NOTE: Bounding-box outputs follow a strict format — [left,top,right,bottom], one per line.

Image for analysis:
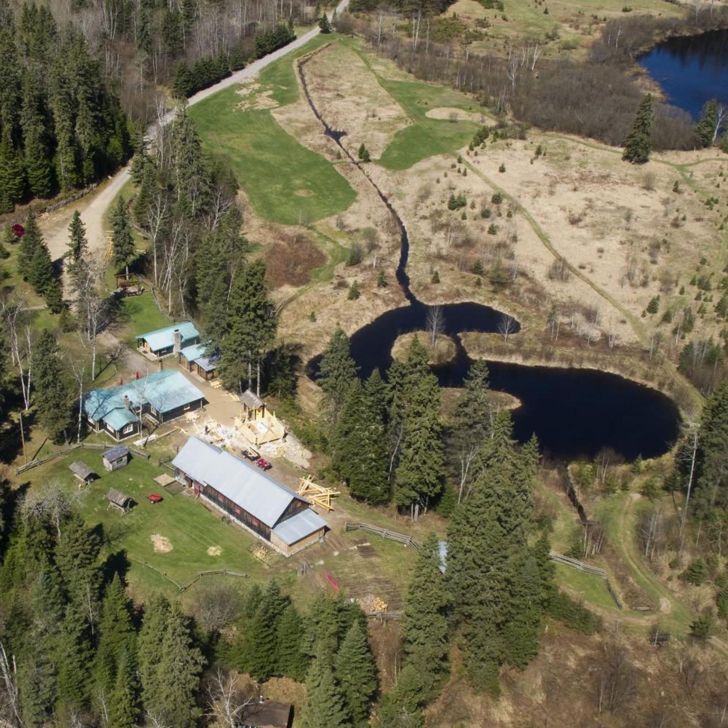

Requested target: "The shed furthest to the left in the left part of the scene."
[70,458,97,484]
